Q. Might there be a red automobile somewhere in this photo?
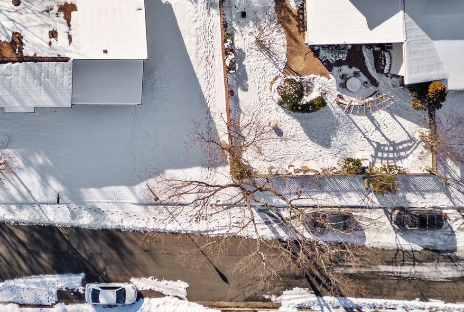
No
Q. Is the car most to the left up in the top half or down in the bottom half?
bottom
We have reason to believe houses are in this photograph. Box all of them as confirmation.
[0,0,148,113]
[295,0,464,91]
